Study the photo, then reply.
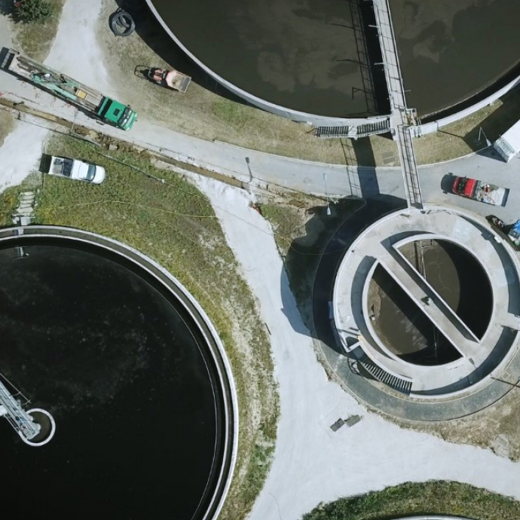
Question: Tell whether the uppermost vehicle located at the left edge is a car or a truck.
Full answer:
From above, the uppermost vehicle located at the left edge can be identified as a truck.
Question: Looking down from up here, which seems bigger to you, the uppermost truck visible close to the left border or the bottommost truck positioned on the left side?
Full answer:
The uppermost truck visible close to the left border takes up more space than the bottommost truck positioned on the left side does.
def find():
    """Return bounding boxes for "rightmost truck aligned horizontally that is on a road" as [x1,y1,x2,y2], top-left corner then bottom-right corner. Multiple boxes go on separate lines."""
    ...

[450,176,508,206]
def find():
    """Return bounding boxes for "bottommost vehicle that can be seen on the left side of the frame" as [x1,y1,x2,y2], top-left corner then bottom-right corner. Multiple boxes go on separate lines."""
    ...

[47,155,109,184]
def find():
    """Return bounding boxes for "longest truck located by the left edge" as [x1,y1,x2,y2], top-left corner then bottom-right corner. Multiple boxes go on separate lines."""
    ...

[1,48,140,133]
